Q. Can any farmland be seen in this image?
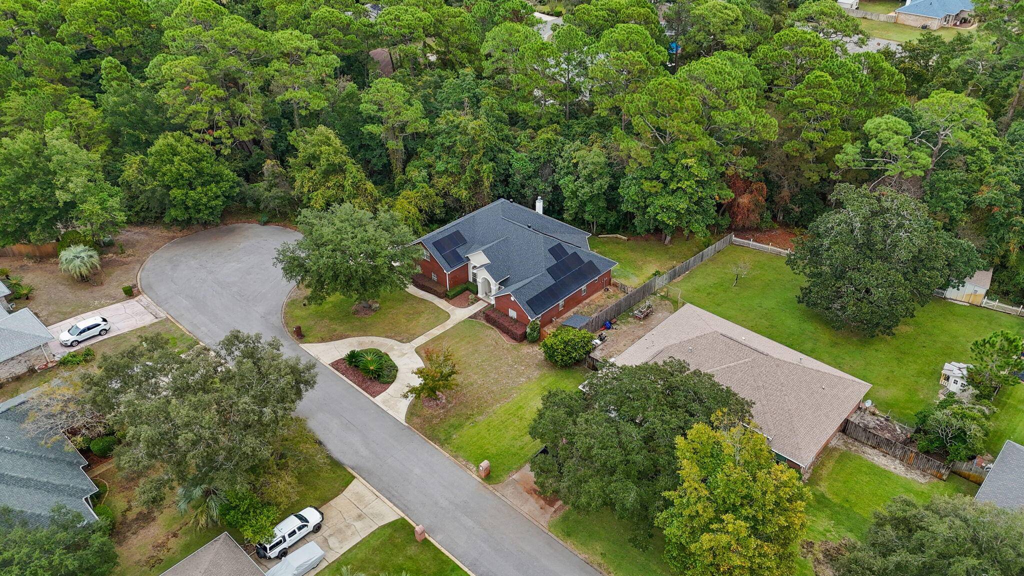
No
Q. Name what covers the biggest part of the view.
trees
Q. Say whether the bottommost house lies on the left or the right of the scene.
left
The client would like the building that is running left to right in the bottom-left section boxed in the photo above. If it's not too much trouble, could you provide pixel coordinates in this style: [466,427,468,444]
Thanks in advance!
[160,531,265,576]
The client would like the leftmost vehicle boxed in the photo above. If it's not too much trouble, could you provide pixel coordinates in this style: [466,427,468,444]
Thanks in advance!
[58,316,111,346]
